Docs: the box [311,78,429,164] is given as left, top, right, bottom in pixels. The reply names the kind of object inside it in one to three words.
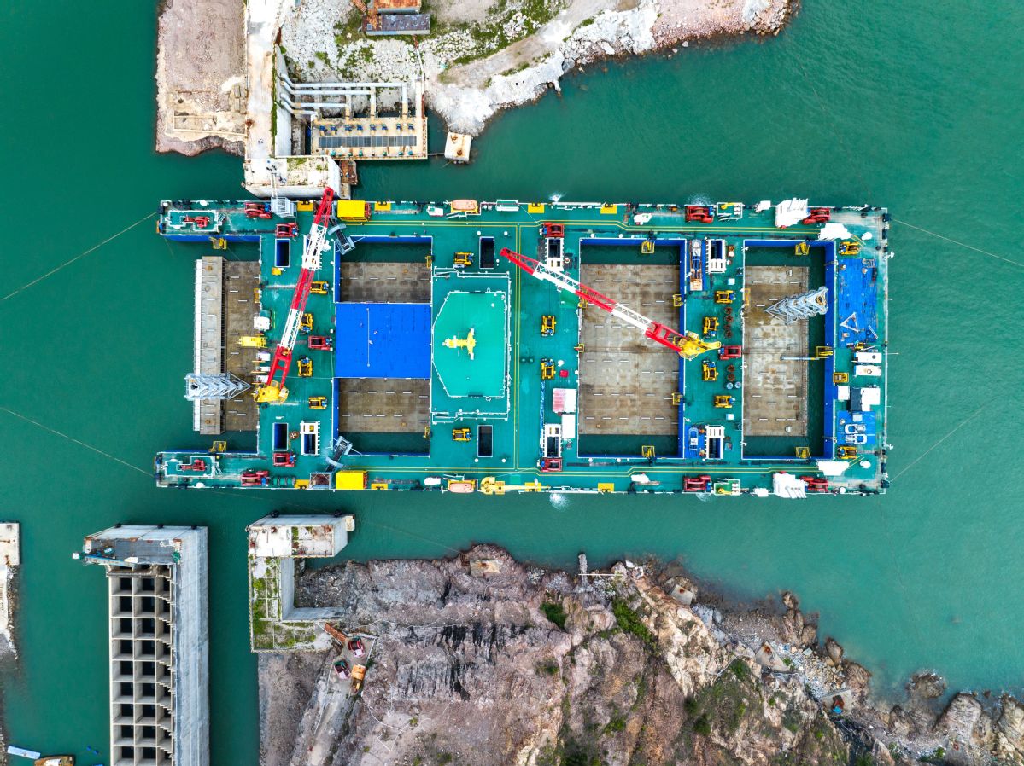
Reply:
building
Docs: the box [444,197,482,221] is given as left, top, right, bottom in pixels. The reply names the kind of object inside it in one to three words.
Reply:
boat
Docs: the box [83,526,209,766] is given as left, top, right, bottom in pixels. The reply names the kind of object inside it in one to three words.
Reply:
pier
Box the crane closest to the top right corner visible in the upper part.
[497,246,721,360]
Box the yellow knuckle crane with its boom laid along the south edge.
[479,477,553,496]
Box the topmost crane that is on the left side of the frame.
[254,184,334,407]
